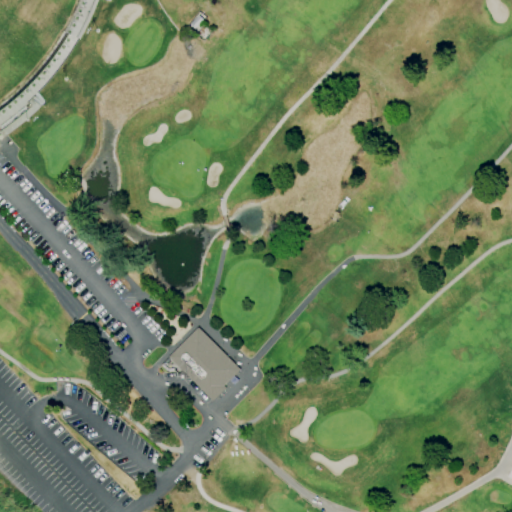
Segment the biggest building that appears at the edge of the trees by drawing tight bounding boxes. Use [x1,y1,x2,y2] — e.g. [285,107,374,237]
[170,328,240,400]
